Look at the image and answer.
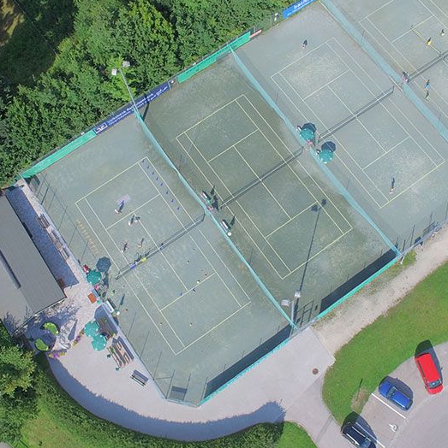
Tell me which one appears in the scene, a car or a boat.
car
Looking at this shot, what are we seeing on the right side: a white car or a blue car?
blue car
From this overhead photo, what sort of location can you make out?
sports ground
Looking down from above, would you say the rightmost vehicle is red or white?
red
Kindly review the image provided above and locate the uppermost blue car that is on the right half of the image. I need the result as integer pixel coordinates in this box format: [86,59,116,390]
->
[377,379,414,412]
